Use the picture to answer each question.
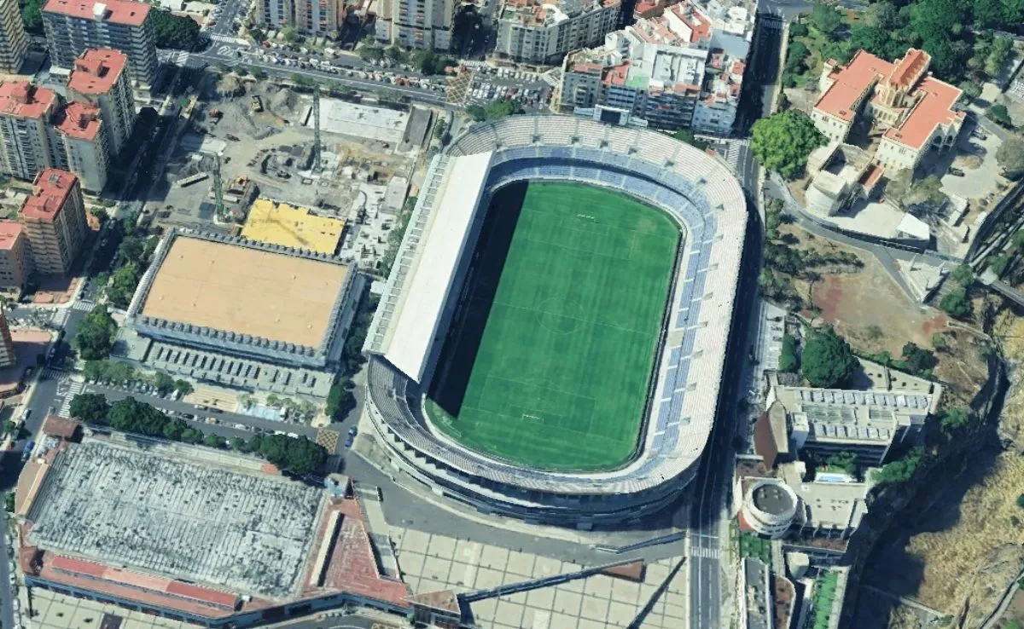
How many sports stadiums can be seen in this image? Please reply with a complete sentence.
There is 1 sports stadium in the image.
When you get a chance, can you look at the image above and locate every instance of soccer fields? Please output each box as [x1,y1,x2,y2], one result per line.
[423,180,681,471]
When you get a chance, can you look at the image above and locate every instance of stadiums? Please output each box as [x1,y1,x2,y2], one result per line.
[356,113,747,528]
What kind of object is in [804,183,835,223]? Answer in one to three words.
house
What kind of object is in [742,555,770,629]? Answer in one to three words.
building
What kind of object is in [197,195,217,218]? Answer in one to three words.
shed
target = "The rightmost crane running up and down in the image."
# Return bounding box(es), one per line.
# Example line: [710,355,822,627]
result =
[305,70,324,174]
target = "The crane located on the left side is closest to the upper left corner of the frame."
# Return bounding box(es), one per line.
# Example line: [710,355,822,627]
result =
[207,147,227,223]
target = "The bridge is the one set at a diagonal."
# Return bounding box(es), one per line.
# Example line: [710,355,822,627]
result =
[968,264,1024,323]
